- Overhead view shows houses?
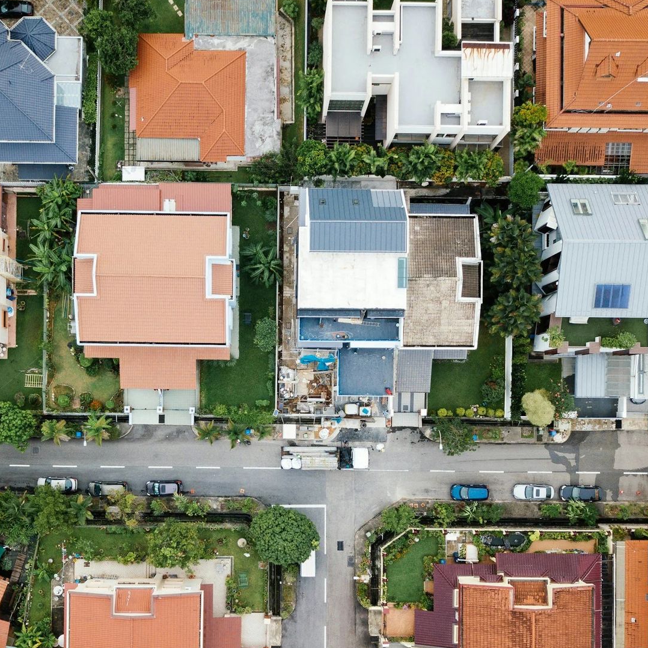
Yes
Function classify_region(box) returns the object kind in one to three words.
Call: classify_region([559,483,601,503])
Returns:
car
